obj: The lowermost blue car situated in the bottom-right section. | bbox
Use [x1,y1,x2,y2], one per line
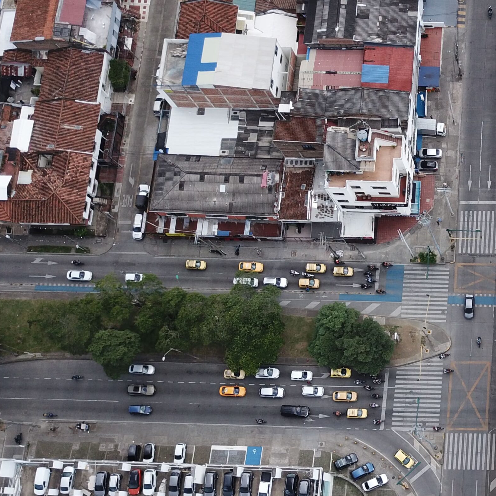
[348,461,377,483]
